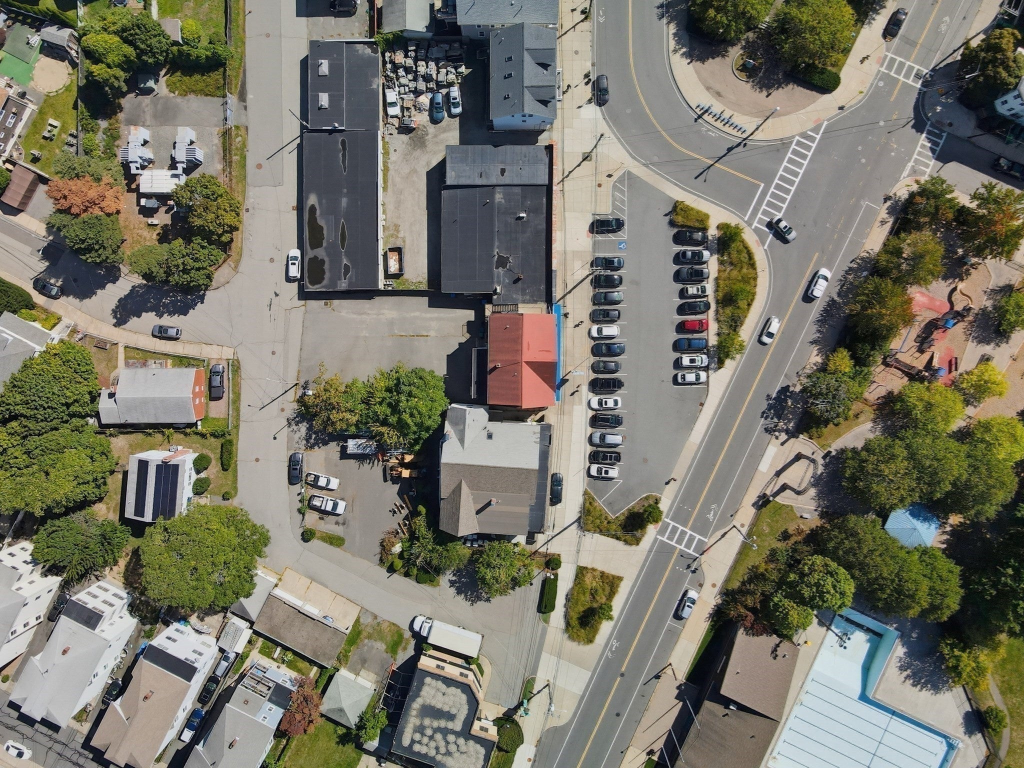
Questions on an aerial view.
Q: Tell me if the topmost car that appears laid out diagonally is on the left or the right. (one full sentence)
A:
You can find the topmost car that appears laid out diagonally on the right side of the picture.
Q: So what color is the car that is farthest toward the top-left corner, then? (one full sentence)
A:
From above, the car that is farthest toward the top-left corner appears black.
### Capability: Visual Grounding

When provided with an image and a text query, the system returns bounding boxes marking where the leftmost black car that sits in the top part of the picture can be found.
[31,277,64,299]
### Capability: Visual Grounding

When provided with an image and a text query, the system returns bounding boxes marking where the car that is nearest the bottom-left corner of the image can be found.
[4,739,33,759]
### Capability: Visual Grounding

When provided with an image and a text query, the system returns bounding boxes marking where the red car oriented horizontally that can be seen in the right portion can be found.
[682,319,709,332]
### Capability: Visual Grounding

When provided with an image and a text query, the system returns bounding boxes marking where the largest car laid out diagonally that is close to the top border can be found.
[882,7,909,42]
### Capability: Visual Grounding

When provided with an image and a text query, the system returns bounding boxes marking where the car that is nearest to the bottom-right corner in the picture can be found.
[677,589,698,619]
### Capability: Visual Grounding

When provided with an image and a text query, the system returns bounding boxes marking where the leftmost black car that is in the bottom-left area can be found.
[48,592,71,621]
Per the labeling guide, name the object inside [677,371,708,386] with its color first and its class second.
white car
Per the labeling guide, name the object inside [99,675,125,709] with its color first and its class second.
black truck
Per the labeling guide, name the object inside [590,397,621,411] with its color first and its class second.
white car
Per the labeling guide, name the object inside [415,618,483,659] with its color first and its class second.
white truck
